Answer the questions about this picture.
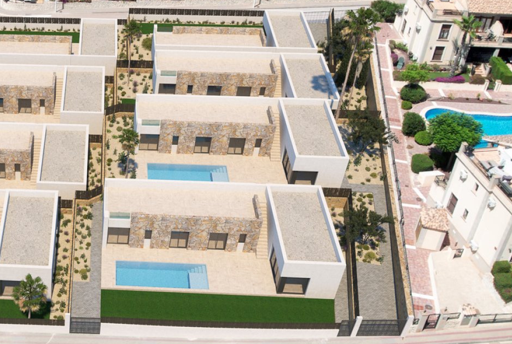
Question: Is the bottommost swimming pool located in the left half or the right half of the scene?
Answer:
left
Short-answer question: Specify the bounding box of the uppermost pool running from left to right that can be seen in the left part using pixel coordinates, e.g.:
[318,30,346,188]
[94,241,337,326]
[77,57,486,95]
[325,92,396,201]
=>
[149,160,234,184]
